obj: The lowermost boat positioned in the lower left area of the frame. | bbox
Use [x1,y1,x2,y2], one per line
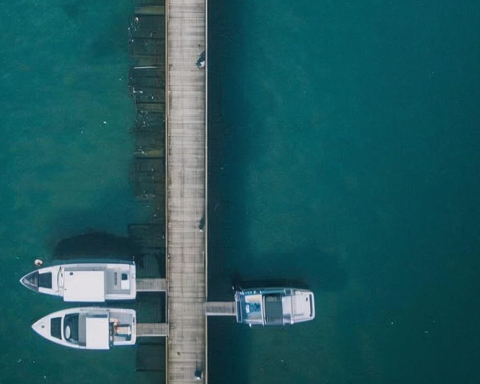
[31,301,157,349]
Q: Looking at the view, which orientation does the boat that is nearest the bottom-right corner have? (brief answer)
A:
horizontally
